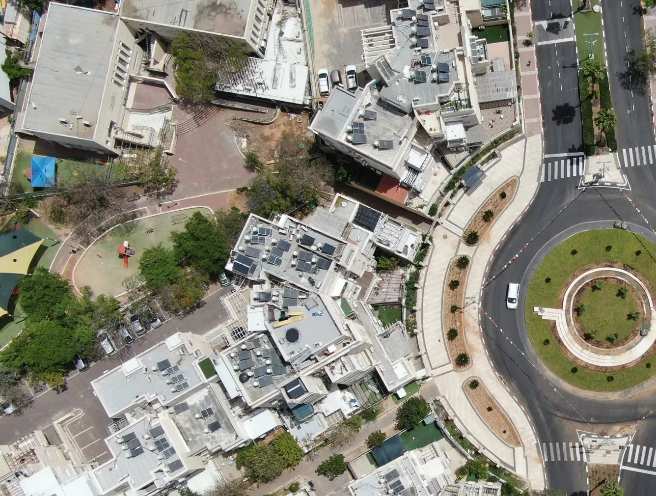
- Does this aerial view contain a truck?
No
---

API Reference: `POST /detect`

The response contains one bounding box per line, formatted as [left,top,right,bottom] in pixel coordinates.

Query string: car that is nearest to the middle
[216,267,232,291]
